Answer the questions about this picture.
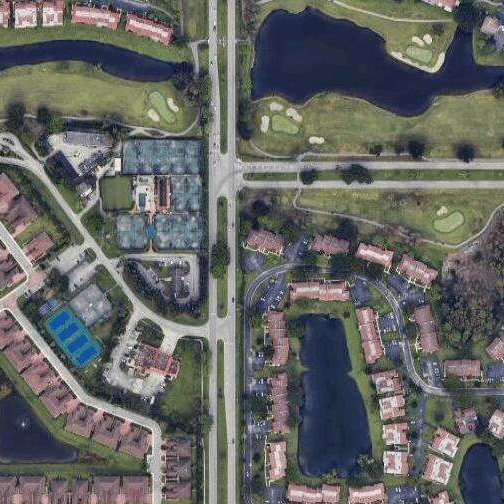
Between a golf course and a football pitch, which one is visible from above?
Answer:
golf course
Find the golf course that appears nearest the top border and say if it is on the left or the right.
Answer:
right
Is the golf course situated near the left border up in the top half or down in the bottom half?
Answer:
top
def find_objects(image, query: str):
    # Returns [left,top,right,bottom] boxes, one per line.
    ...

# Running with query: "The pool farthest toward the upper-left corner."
[135,176,154,213]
